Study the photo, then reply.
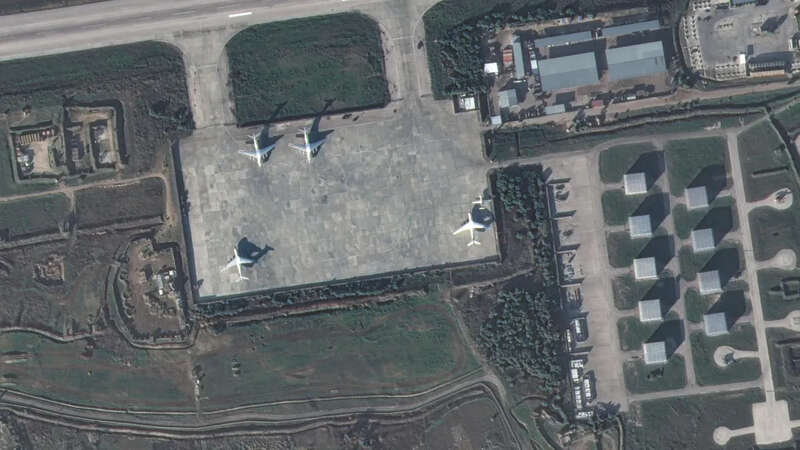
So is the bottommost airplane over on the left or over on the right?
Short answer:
left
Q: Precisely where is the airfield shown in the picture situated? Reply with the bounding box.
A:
[0,0,501,301]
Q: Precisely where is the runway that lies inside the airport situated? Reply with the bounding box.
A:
[0,0,344,62]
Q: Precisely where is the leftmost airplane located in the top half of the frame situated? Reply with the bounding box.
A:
[238,131,275,166]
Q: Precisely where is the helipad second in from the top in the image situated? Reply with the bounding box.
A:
[752,249,796,271]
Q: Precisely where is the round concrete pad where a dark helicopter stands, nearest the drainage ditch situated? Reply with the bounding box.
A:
[744,189,792,210]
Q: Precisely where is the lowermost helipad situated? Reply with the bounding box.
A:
[713,427,756,445]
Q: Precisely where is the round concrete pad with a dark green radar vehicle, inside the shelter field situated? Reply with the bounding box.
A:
[712,346,763,366]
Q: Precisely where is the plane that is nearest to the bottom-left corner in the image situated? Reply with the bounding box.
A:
[220,248,257,280]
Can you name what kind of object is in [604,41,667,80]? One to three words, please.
building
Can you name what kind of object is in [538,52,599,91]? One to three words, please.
building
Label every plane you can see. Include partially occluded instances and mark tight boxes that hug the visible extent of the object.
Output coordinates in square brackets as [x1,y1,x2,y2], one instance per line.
[472,197,491,211]
[220,248,257,280]
[288,127,325,163]
[453,212,491,244]
[238,131,275,166]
